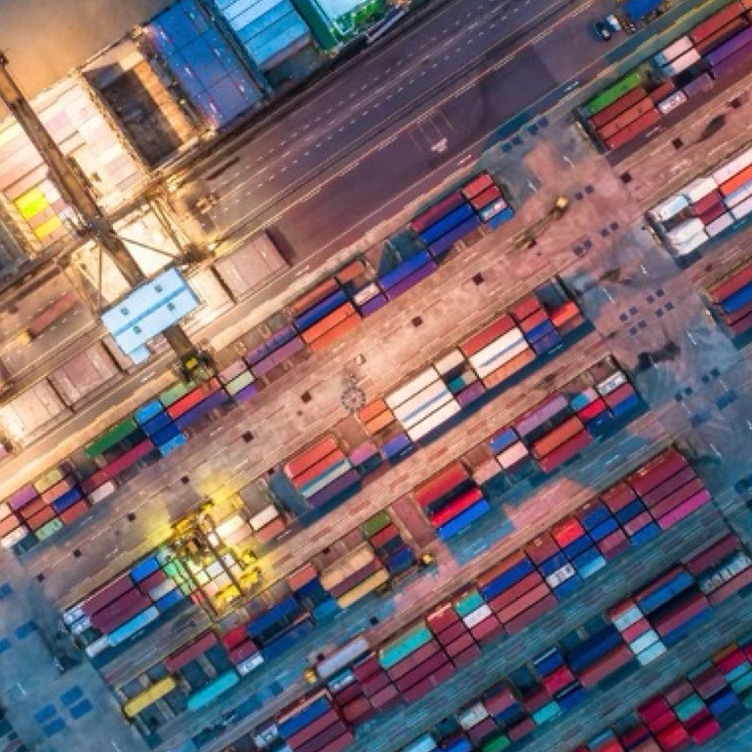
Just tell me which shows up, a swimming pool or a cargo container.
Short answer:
cargo container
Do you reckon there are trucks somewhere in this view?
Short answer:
Yes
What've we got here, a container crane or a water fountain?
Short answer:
container crane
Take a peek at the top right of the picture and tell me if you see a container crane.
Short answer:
No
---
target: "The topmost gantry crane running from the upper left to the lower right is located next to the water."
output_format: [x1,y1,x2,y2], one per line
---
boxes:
[0,64,222,398]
